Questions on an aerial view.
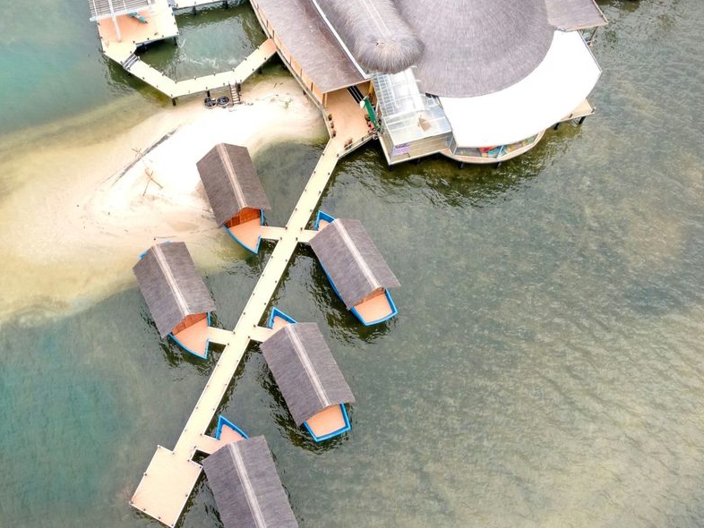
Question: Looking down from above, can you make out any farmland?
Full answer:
No, farmland can't be seen anywhere here.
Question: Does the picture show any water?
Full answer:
Yes, the picture does contain water.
